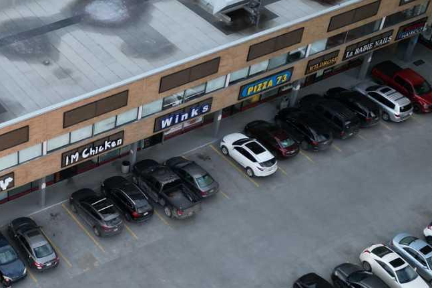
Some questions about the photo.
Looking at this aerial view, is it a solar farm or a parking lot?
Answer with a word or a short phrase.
parking lot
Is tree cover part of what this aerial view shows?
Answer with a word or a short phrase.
No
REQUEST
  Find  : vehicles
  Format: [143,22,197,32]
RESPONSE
[360,243,431,288]
[329,261,389,288]
[371,62,432,113]
[328,89,387,130]
[0,233,26,286]
[392,231,432,286]
[8,217,64,271]
[249,121,307,164]
[352,81,414,123]
[223,133,284,177]
[72,189,129,240]
[103,176,161,226]
[300,96,367,144]
[167,152,225,199]
[134,159,204,220]
[278,109,336,152]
